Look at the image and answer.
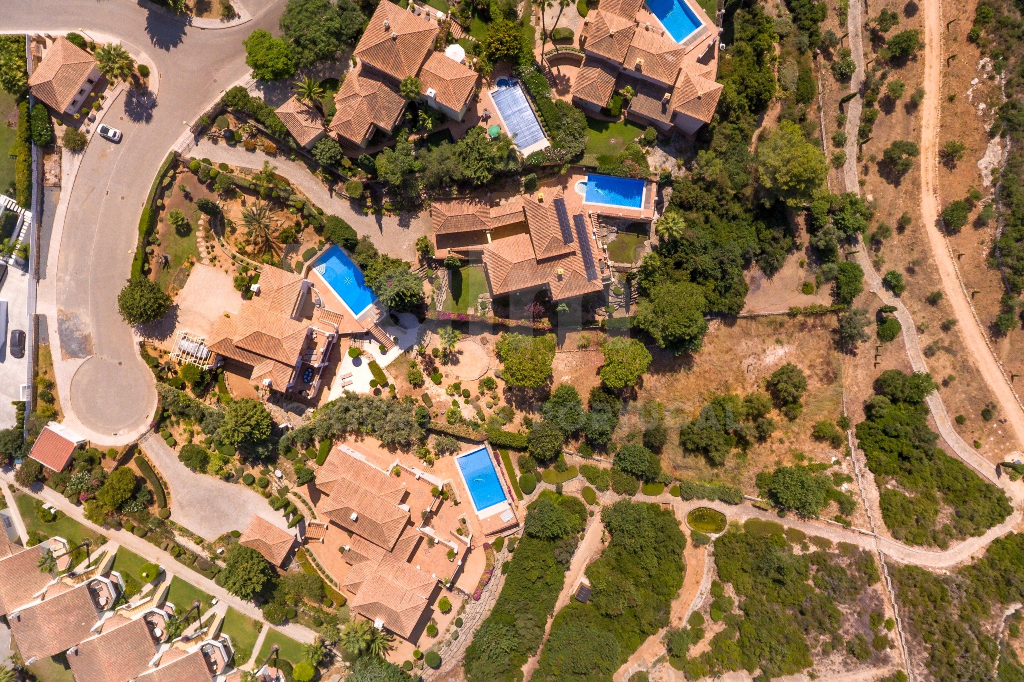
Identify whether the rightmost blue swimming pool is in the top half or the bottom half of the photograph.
top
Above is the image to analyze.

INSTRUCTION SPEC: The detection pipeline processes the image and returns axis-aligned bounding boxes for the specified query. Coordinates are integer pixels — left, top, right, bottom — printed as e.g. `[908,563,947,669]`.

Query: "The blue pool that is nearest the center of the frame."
[452,445,510,515]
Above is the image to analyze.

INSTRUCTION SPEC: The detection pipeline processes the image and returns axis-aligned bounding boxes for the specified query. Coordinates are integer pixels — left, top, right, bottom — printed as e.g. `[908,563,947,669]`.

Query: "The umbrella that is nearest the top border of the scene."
[446,44,466,63]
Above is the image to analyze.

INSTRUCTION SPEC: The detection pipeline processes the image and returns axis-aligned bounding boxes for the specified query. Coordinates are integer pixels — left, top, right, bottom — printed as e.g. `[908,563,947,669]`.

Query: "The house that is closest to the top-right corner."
[572,0,724,130]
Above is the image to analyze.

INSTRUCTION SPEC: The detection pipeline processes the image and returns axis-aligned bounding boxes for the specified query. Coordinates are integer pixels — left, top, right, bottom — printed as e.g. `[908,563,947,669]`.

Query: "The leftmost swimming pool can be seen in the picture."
[308,242,380,320]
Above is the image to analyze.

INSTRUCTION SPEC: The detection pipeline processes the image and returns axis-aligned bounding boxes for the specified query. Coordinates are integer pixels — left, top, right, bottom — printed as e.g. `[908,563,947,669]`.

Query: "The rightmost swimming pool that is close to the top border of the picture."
[643,0,706,44]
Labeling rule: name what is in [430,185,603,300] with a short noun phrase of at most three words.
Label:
house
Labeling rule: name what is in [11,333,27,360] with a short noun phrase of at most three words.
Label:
car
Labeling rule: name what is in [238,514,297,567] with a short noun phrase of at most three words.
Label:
building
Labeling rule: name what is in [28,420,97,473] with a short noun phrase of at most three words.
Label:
shed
